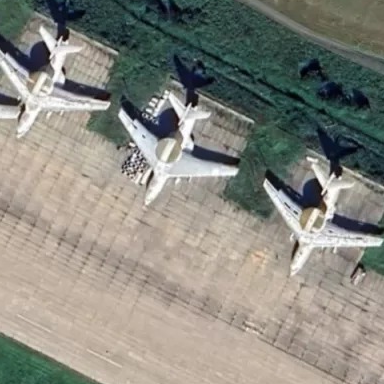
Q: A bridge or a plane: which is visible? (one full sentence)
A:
It is a plane that can be seen here.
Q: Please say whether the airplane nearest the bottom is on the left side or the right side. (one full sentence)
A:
The airplane nearest the bottom sits on the right side.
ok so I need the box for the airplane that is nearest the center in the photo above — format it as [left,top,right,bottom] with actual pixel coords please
[116,93,238,209]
